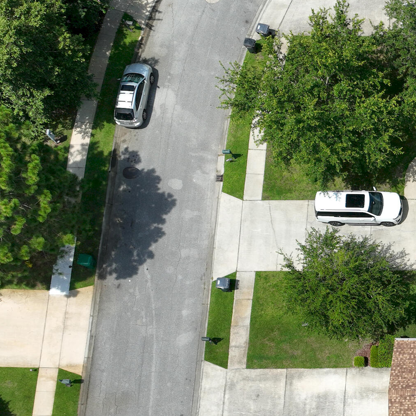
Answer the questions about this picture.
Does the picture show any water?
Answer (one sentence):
No, there's no water in this view.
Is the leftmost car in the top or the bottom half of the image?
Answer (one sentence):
It is in the top half that the leftmost car appears.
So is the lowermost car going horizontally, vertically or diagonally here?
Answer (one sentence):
I'd say the lowermost car is aligned horizontally in the picture.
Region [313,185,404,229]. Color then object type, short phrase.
white car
